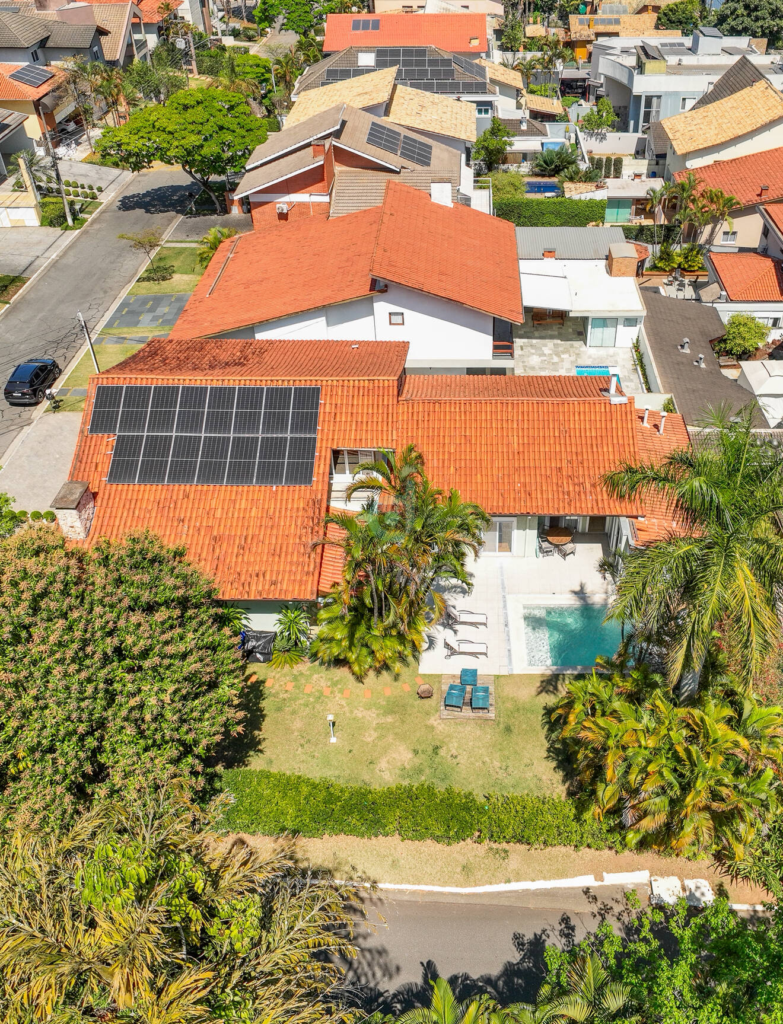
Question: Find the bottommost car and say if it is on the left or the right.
left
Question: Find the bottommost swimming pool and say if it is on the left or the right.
right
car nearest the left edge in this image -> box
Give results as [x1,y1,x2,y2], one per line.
[0,358,60,404]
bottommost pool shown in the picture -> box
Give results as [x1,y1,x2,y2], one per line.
[523,604,660,665]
